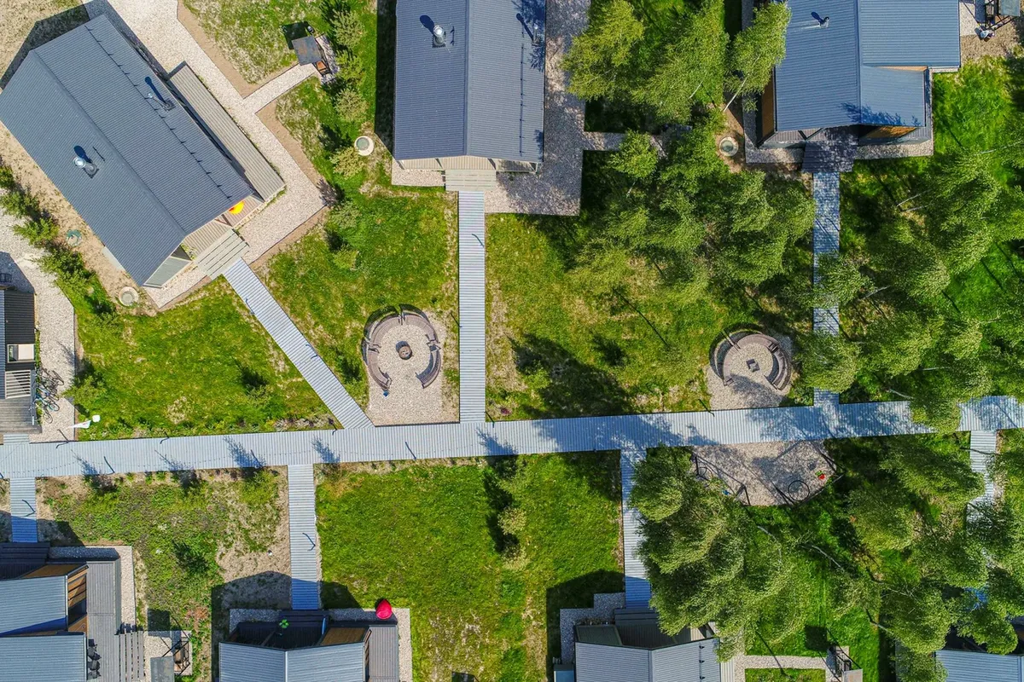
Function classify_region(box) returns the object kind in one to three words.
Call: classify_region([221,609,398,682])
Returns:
house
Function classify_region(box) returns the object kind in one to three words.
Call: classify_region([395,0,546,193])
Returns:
house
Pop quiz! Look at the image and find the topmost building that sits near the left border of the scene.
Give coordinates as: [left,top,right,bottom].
[0,16,287,286]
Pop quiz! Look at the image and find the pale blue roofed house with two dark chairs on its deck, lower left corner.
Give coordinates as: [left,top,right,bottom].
[0,539,145,682]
